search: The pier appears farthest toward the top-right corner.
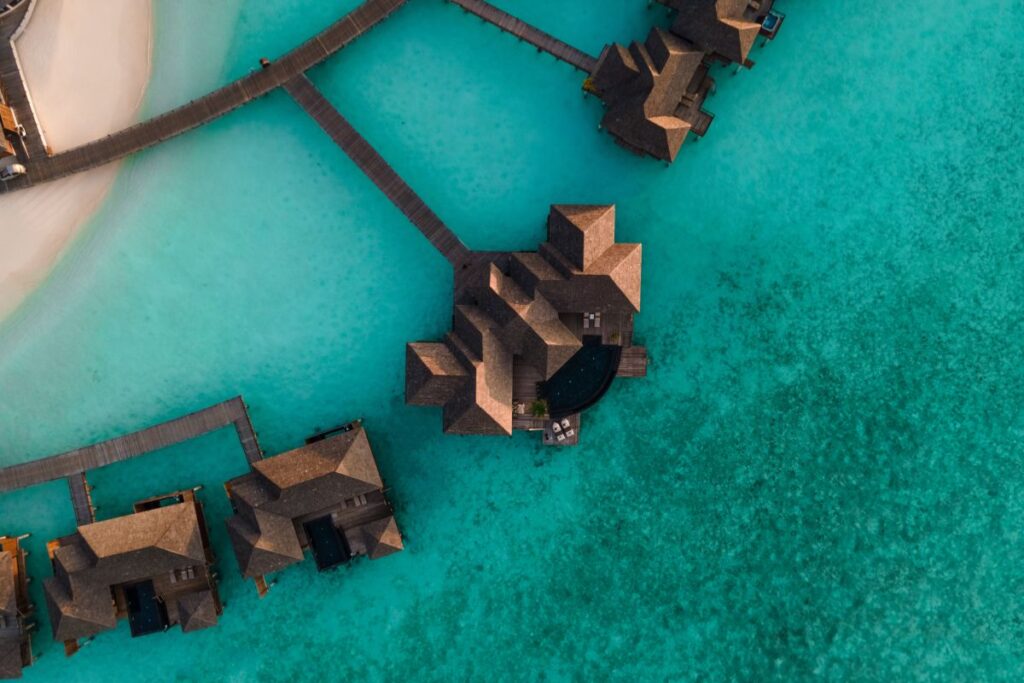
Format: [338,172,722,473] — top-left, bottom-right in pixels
[445,0,598,73]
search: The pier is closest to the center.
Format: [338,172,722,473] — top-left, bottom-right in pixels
[553,413,579,444]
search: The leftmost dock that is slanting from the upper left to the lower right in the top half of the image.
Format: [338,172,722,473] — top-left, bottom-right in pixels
[282,69,471,265]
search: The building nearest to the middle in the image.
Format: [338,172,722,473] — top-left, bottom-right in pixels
[406,205,647,444]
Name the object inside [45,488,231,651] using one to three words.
house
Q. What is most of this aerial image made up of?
water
